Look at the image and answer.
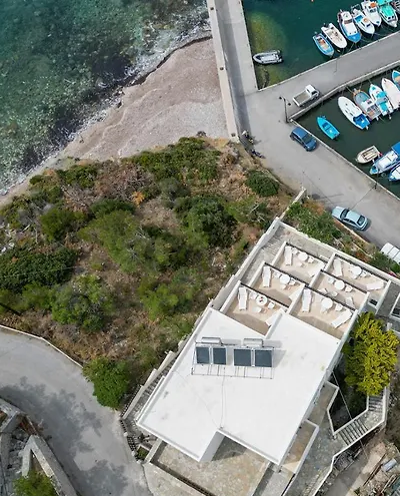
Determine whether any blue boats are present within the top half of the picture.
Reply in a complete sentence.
Yes, a blue boat shows up within the top half of the picture.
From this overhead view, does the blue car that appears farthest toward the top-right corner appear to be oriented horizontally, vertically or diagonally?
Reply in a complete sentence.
In this picture, the blue car that appears farthest toward the top-right corner is oriented diagonally.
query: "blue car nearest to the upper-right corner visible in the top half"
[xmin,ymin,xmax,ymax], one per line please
[289,122,317,150]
